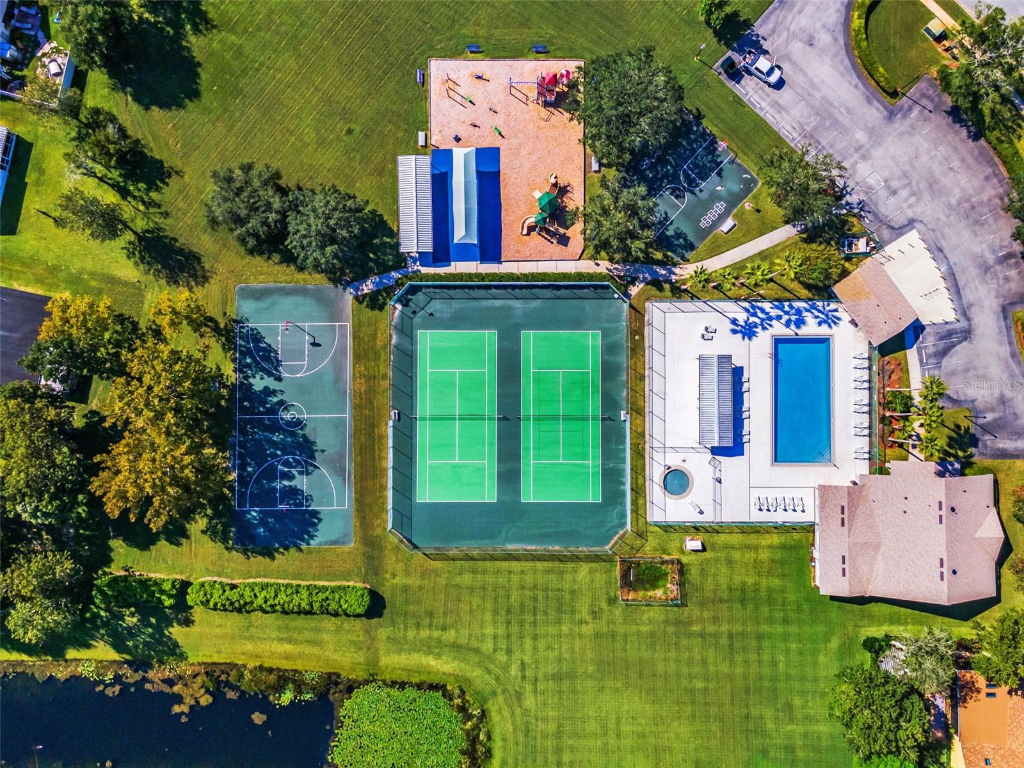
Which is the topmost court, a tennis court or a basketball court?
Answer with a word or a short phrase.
basketball court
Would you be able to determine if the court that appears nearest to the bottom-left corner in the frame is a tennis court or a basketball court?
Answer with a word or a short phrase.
basketball court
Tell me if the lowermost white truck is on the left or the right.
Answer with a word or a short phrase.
right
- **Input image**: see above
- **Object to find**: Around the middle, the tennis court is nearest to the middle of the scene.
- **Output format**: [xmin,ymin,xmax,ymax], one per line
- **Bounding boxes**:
[392,286,628,548]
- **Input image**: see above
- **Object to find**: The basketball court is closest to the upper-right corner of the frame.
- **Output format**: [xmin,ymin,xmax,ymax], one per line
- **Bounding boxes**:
[617,111,760,260]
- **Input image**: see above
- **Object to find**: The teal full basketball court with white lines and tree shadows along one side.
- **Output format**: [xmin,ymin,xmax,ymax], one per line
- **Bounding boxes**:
[235,285,353,547]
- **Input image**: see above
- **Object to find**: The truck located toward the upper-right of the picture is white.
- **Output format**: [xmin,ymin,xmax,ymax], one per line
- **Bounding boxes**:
[742,48,785,87]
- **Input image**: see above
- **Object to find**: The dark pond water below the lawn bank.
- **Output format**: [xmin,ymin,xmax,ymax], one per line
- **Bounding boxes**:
[0,664,486,768]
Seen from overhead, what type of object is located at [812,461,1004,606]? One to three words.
building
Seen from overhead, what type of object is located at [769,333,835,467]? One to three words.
swimming pool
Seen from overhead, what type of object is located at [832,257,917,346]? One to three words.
building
